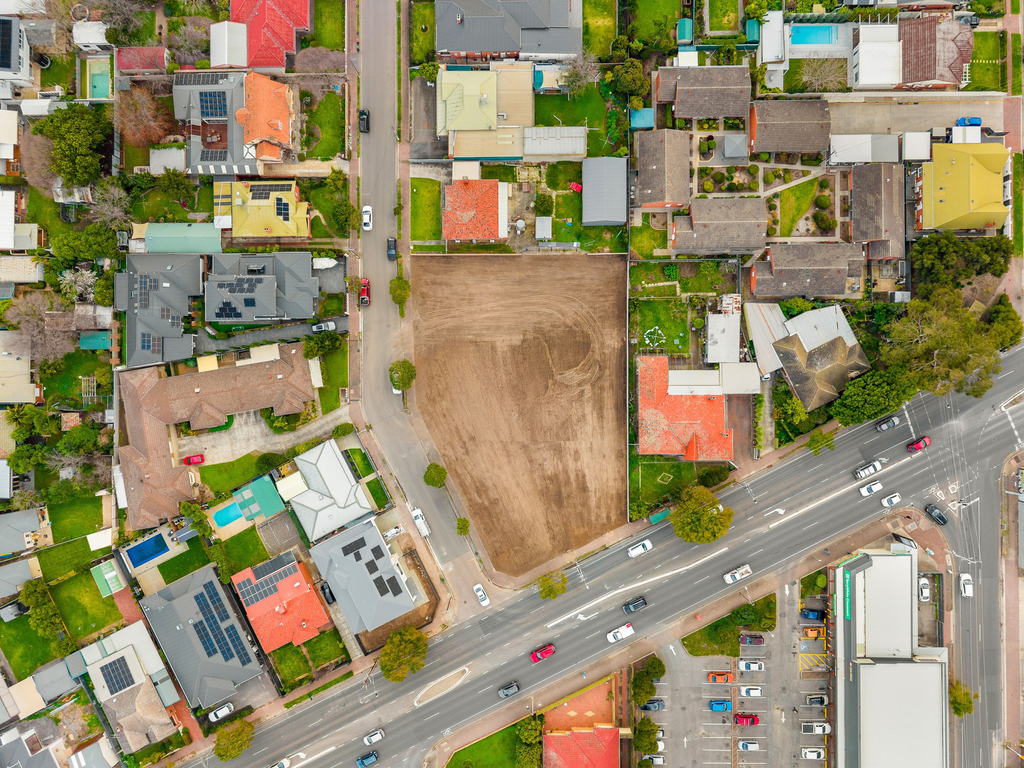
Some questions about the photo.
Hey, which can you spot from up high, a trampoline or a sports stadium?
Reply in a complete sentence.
It is a trampoline that can be seen here.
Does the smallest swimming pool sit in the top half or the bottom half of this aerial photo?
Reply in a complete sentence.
Seen from above, the smallest swimming pool lies in the bottom half of the view.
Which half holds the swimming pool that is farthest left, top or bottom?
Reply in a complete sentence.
It is in the top half that the swimming pool that is farthest left appears.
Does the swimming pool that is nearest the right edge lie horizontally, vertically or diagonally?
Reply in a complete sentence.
The swimming pool that is nearest the right edge has been laid out horizontally relative to the frame.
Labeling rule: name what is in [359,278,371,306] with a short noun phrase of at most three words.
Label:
vehicle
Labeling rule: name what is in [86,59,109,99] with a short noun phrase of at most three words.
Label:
swimming pool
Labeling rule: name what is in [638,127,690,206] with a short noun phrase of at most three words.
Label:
house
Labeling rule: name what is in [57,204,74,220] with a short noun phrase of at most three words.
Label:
trampoline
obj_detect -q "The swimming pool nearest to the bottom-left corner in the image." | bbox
[125,532,170,570]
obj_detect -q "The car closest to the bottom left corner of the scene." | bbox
[209,703,234,721]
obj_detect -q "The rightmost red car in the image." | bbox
[906,436,931,453]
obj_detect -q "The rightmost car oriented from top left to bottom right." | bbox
[925,503,948,527]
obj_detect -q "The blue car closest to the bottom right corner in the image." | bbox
[801,608,826,621]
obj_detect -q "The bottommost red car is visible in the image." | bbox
[734,713,759,726]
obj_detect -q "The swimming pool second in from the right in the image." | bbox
[210,502,242,530]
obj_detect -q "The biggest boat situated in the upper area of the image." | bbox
[313,257,338,269]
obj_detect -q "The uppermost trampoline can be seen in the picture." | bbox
[68,2,90,21]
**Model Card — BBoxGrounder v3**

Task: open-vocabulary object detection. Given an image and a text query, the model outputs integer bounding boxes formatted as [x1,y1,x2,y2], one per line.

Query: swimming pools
[791,24,839,45]
[86,59,109,99]
[210,502,242,530]
[125,532,170,570]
